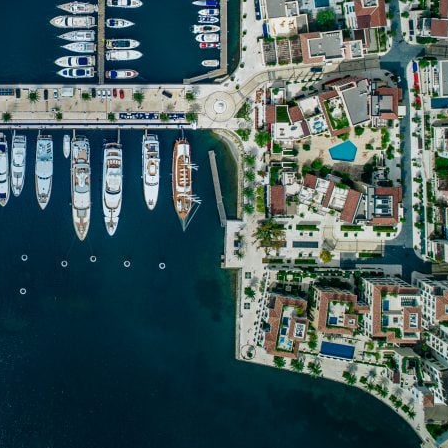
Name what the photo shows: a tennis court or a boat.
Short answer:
boat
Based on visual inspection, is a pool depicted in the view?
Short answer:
Yes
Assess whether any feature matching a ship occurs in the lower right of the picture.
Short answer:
No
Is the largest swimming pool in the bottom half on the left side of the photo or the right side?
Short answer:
right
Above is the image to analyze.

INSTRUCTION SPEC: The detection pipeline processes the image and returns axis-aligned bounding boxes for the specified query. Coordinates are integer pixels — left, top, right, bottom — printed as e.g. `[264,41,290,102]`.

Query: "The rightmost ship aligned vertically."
[173,131,200,232]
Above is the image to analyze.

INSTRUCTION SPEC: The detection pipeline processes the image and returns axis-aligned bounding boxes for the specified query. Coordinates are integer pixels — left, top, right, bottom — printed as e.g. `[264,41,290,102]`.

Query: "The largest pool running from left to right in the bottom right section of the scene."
[319,340,356,361]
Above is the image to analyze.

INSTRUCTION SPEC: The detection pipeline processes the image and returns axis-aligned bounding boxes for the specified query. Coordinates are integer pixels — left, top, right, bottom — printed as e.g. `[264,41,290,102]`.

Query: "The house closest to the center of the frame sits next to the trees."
[263,170,301,216]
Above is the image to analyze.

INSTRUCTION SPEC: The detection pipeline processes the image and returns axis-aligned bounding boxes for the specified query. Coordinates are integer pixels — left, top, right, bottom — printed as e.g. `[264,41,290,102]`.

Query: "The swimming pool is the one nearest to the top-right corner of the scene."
[430,97,448,110]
